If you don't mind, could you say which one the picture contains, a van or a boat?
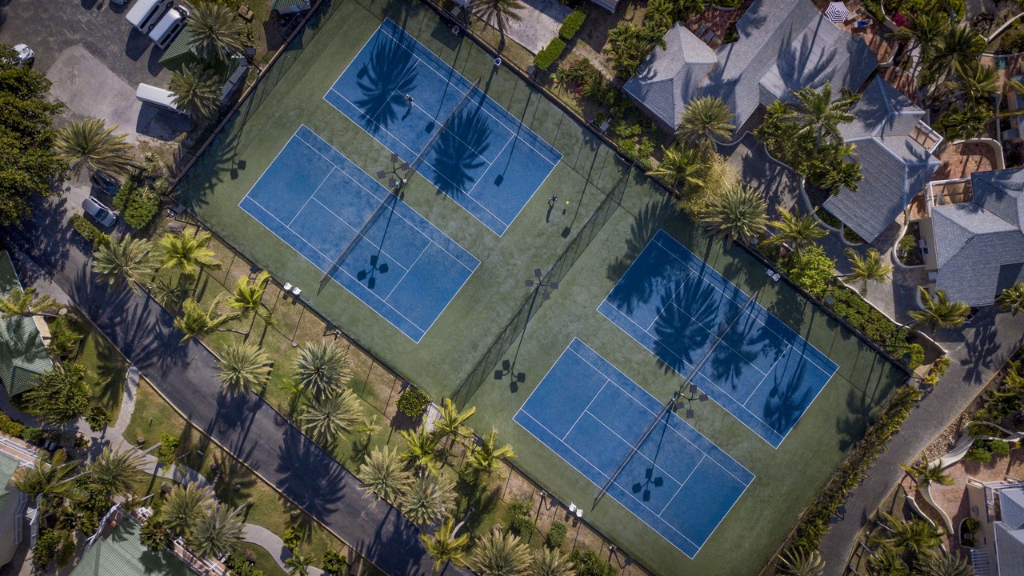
van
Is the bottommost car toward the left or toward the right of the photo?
left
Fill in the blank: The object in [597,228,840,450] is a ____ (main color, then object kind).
blue tennis court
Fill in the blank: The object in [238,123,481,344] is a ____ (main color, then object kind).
blue tennis court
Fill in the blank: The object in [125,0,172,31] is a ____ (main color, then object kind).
white van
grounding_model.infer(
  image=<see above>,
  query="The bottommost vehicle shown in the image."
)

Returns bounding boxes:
[81,194,124,230]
